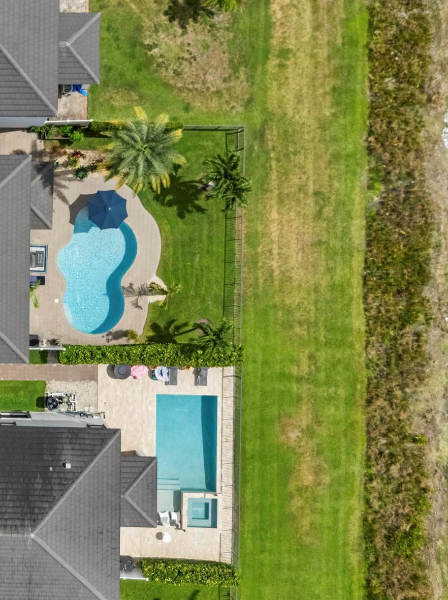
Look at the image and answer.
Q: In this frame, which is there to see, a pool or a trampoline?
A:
pool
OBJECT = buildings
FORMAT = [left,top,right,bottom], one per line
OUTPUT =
[0,153,55,365]
[0,0,103,127]
[0,412,159,600]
